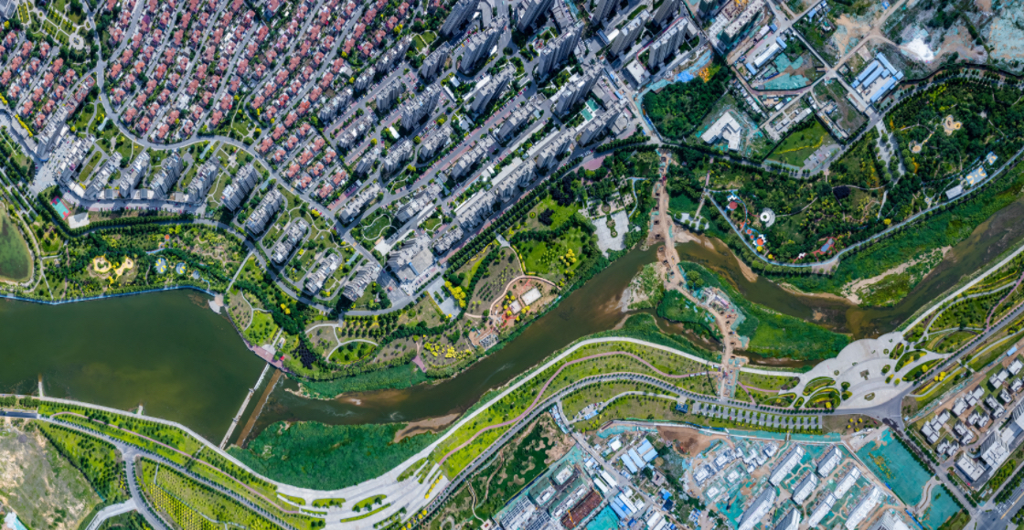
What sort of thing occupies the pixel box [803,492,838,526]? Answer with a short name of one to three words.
building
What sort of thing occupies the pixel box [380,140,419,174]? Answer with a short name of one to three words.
building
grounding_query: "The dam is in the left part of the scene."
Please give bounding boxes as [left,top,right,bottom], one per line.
[219,364,282,447]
